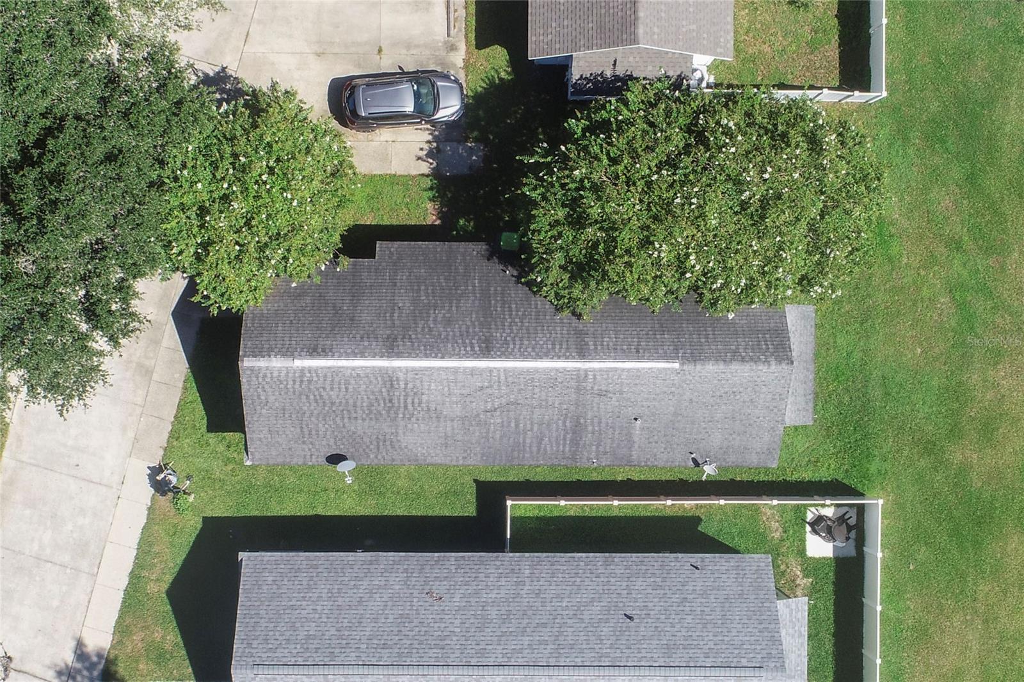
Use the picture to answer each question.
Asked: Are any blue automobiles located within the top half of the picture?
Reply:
No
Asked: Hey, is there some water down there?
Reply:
No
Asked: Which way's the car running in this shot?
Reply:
horizontally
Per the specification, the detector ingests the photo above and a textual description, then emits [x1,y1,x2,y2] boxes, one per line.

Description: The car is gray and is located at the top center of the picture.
[341,68,467,134]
